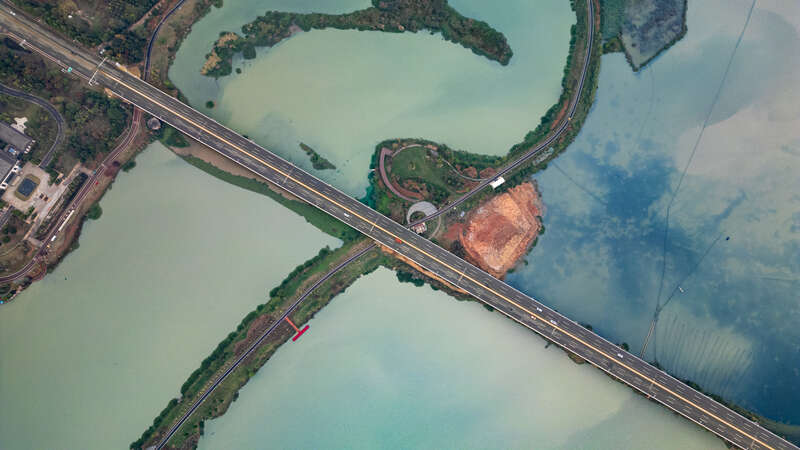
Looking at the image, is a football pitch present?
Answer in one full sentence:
No, there isn't any football pitch down there.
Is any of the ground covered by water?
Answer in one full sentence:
Yes, there's water in this view.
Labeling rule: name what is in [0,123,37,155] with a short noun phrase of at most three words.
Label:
building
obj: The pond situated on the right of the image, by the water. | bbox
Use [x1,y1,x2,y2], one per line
[600,0,686,68]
